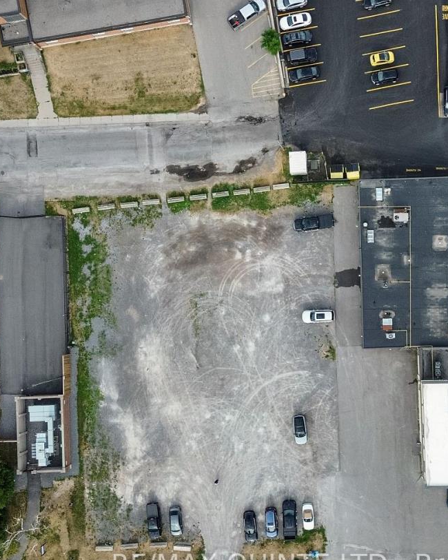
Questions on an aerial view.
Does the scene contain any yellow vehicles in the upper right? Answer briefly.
Yes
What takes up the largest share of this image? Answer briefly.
paved ground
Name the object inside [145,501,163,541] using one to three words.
vehicle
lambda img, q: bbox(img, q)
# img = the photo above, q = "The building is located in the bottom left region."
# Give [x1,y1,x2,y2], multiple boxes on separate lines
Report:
[15,392,74,475]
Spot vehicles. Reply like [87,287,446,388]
[279,12,312,31]
[284,46,318,66]
[293,213,335,232]
[293,414,309,445]
[145,501,163,541]
[282,29,313,48]
[302,309,334,324]
[302,502,316,530]
[288,65,321,84]
[168,504,184,536]
[370,69,400,86]
[362,0,393,11]
[369,50,395,67]
[281,499,298,540]
[276,0,308,12]
[264,505,279,537]
[242,508,258,542]
[225,0,268,31]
